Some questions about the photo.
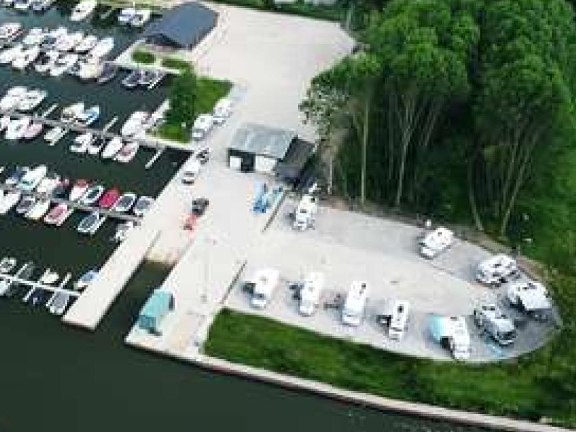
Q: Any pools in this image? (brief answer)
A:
No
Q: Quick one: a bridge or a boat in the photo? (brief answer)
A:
boat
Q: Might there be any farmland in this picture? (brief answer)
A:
No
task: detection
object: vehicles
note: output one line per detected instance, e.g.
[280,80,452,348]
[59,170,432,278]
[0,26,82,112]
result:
[294,191,317,230]
[500,278,563,318]
[251,264,281,310]
[470,249,524,287]
[385,292,412,344]
[193,113,213,138]
[189,197,207,217]
[297,268,326,317]
[182,163,200,181]
[213,99,230,120]
[419,221,455,260]
[472,296,518,349]
[443,310,472,360]
[197,150,208,163]
[343,277,370,326]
